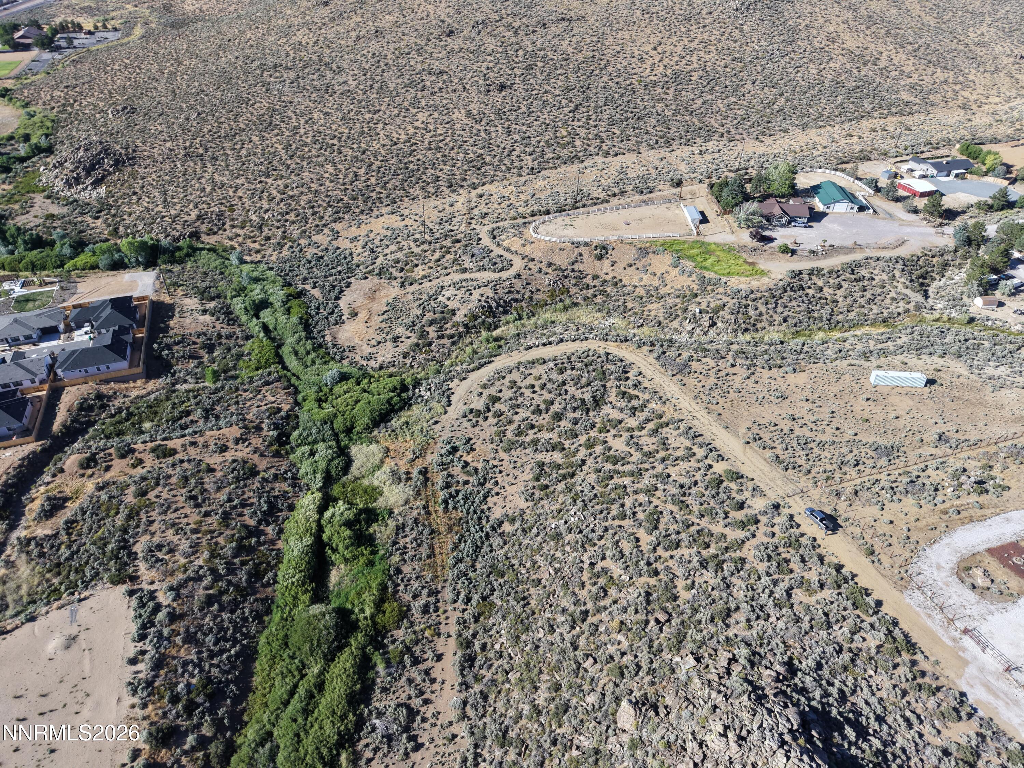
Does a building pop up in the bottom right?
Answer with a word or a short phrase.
No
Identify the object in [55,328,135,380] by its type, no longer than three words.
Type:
house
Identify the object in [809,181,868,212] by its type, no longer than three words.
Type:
barn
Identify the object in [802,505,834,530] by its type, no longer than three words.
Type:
truck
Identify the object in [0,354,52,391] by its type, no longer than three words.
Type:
house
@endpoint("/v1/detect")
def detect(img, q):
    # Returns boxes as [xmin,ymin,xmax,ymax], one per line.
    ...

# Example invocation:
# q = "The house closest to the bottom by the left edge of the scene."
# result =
[0,388,32,438]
